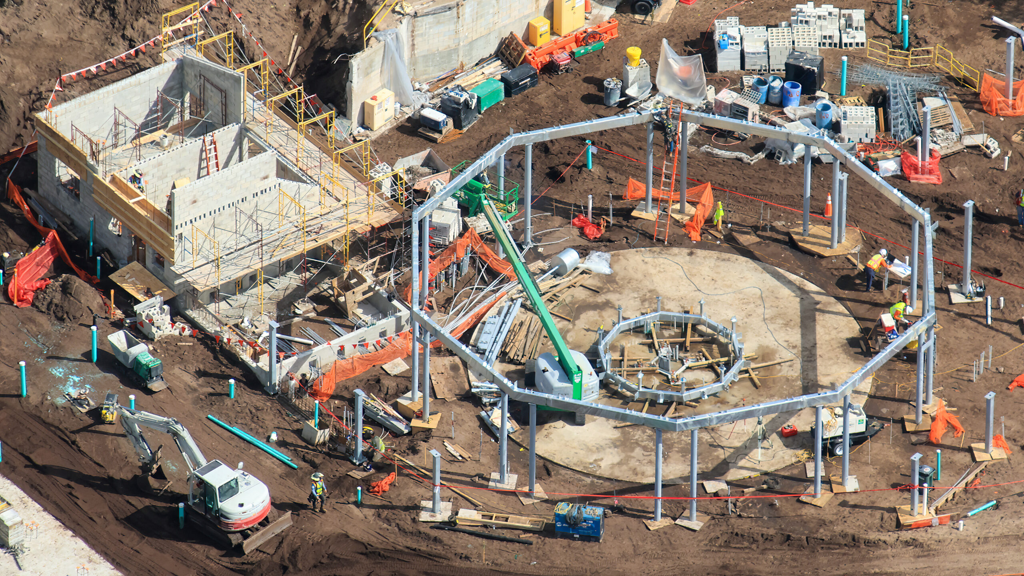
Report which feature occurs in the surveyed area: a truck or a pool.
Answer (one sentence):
I can see a truck in this picture.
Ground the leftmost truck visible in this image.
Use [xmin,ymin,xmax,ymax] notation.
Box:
[104,328,176,399]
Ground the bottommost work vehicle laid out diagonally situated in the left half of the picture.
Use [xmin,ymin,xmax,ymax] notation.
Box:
[118,386,296,559]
